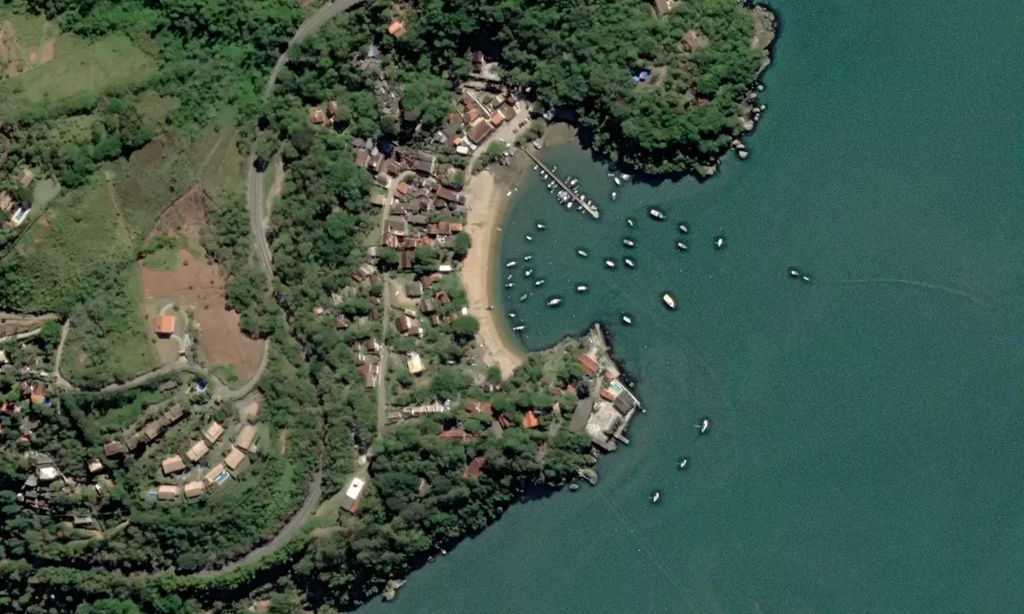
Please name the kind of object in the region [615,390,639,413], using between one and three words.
building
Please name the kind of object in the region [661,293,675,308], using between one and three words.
boat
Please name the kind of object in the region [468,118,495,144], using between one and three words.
house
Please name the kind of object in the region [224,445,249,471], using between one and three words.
house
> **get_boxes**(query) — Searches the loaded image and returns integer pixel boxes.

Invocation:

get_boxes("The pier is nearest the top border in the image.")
[521,147,597,217]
